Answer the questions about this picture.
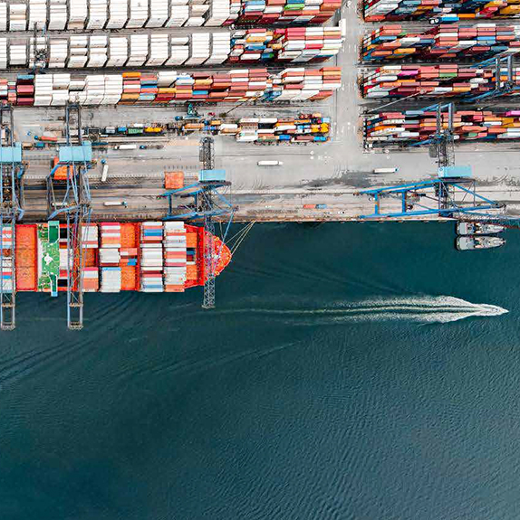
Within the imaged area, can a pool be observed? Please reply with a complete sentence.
No, I find no pool anywhere in the image.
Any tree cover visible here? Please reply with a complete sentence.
No, no tree cover is visible.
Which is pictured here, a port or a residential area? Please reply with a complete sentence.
The area seen from above is a port.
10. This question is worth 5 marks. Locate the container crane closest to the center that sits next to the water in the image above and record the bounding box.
[152,112,242,309]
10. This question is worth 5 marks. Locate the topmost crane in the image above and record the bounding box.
[28,15,49,71]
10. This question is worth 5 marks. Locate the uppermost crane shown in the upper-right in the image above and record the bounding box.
[451,48,510,103]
